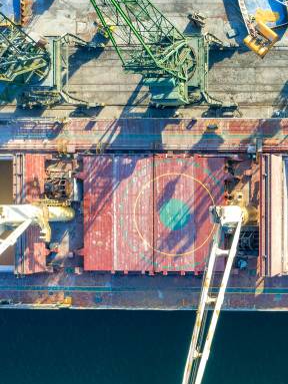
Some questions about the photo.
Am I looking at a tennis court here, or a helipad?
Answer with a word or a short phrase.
helipad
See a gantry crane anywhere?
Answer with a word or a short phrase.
Yes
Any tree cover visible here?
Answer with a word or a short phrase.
No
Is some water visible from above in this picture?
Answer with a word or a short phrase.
Yes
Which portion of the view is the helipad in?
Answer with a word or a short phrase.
center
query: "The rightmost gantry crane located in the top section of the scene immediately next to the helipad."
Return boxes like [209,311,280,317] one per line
[94,0,239,110]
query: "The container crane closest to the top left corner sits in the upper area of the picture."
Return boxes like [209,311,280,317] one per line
[0,5,105,126]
